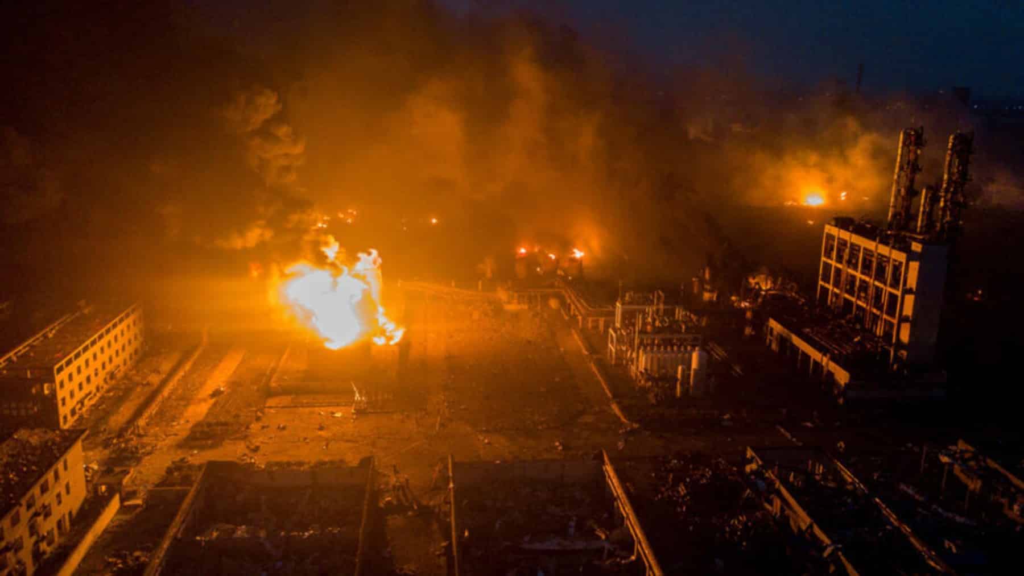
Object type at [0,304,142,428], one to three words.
building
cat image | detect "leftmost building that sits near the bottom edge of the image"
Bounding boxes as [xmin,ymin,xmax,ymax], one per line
[0,422,87,576]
